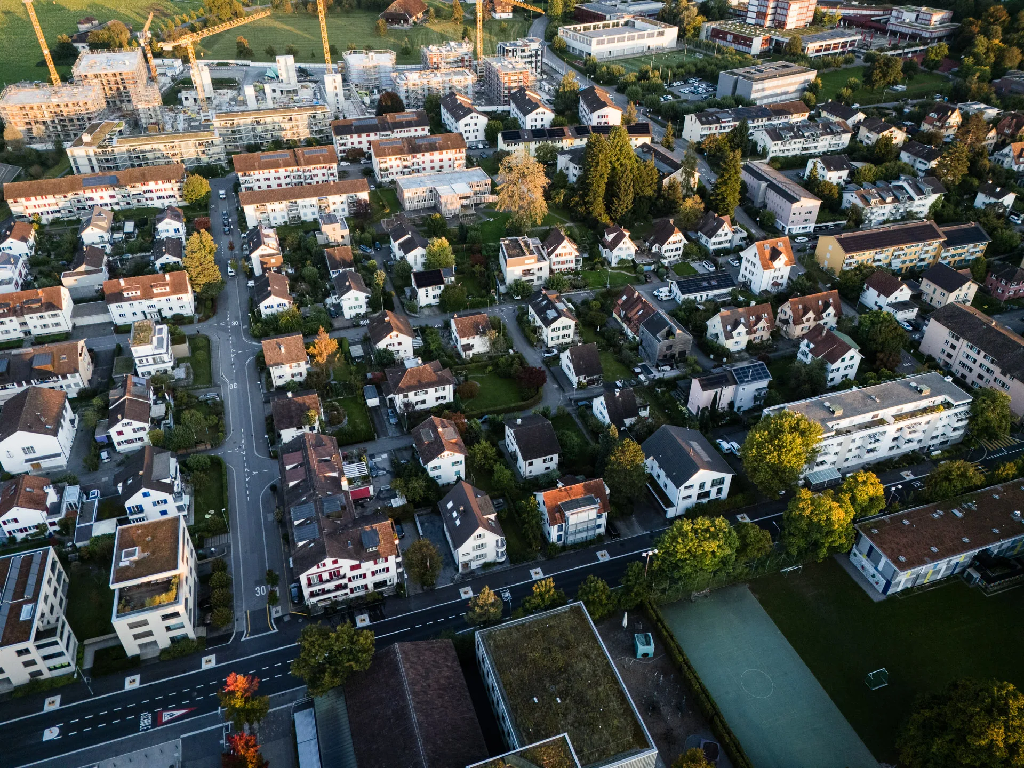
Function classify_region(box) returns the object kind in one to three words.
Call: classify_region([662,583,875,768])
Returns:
sports court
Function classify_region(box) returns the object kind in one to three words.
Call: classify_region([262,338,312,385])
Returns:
house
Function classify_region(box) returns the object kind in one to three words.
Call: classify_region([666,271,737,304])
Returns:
building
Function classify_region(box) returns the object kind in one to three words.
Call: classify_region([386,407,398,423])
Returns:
vehicle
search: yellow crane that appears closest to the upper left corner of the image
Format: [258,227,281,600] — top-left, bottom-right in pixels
[27,0,61,85]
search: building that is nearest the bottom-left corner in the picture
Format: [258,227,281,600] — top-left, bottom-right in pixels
[0,546,85,695]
